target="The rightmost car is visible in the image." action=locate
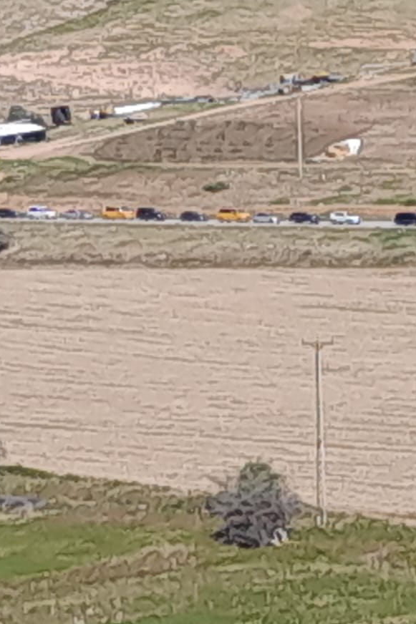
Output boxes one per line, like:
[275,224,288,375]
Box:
[394,214,416,226]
